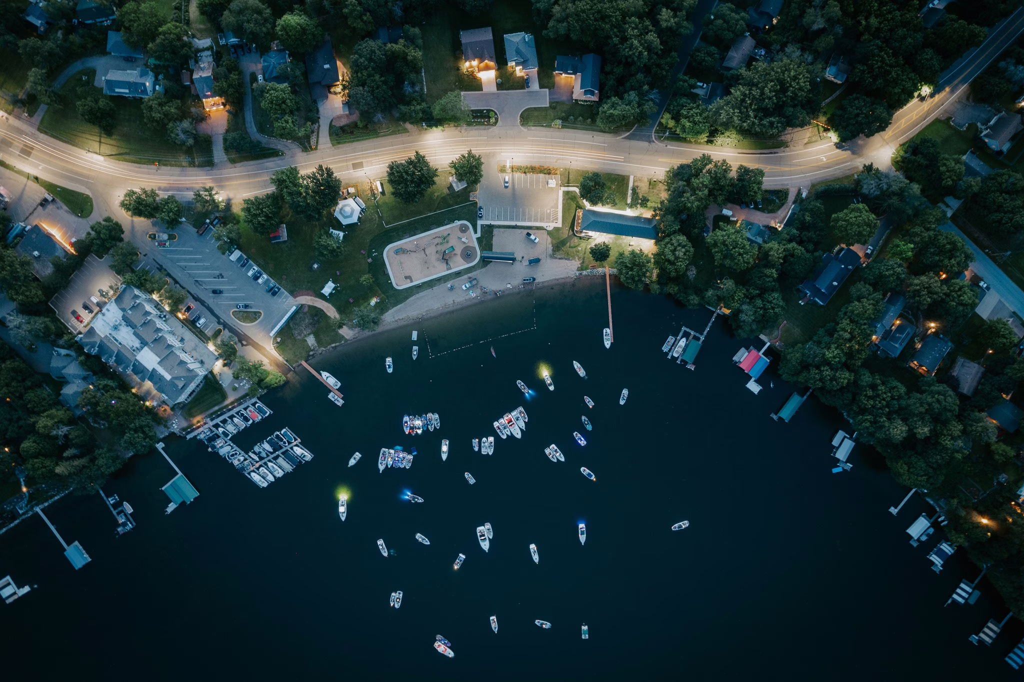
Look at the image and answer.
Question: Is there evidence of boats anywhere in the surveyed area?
Yes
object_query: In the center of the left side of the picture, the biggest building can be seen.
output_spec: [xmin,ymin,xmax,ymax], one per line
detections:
[80,285,224,406]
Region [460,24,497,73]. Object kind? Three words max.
house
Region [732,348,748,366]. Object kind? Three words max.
boat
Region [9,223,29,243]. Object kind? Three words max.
vehicle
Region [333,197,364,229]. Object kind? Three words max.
tent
